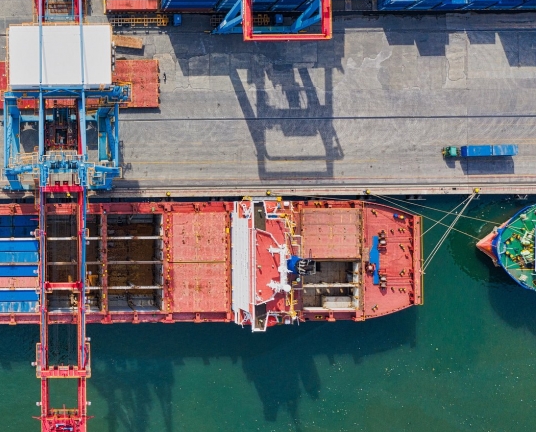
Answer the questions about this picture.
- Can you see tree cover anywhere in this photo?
No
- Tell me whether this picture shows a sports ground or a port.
port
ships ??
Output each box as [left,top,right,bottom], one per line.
[478,205,536,288]
[0,193,424,328]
